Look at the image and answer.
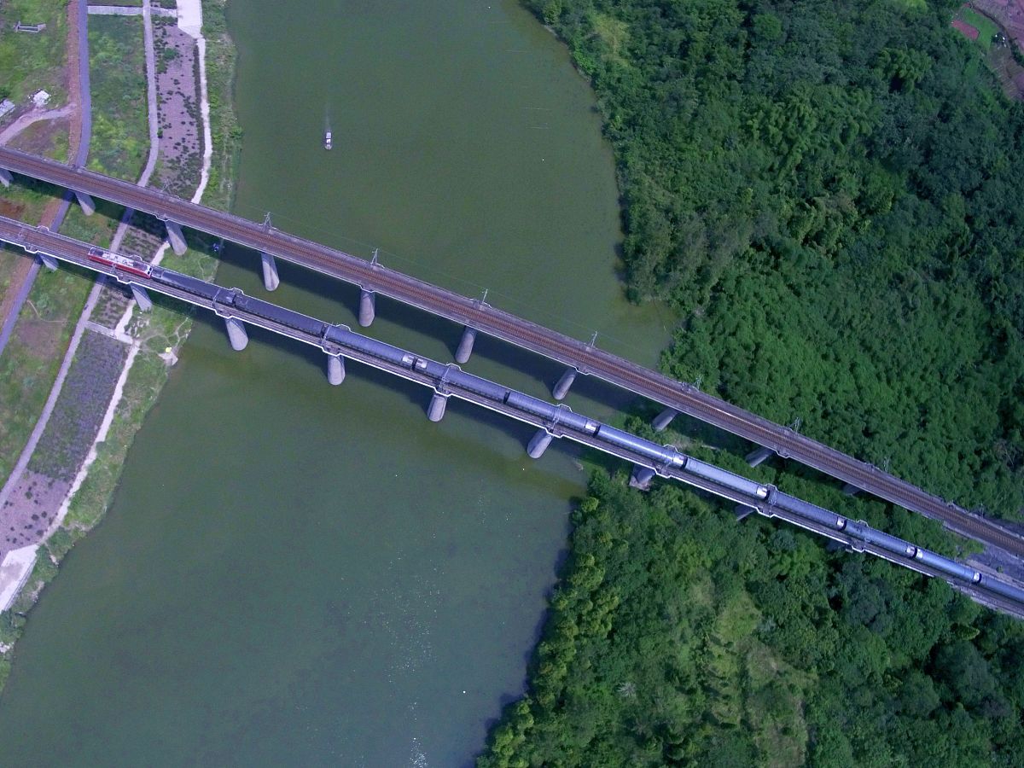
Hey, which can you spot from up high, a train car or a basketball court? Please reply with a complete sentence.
Visible in the photo is a train car.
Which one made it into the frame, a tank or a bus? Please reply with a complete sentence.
It is a bus that can be seen here.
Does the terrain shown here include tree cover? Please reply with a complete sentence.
Yes, tree cover can be seen from above here.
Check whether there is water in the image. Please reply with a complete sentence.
Yes, the picture does contain water.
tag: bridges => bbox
[0,144,948,524]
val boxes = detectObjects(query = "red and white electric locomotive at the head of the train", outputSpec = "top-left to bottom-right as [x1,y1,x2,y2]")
[89,245,156,278]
